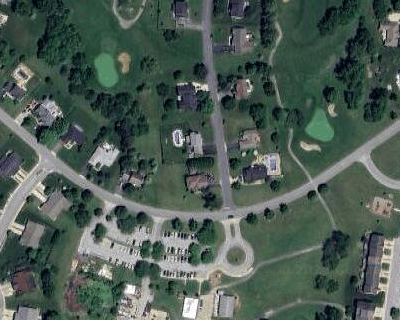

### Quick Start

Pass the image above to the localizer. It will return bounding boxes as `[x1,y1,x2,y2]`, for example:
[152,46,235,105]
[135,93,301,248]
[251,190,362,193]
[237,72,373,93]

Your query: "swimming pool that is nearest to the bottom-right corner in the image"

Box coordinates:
[265,152,281,175]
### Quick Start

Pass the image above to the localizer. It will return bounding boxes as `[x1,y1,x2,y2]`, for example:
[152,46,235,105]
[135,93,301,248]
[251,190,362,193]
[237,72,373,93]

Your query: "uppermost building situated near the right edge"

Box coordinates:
[384,14,400,46]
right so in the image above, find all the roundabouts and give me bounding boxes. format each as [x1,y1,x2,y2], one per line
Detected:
[219,218,254,273]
